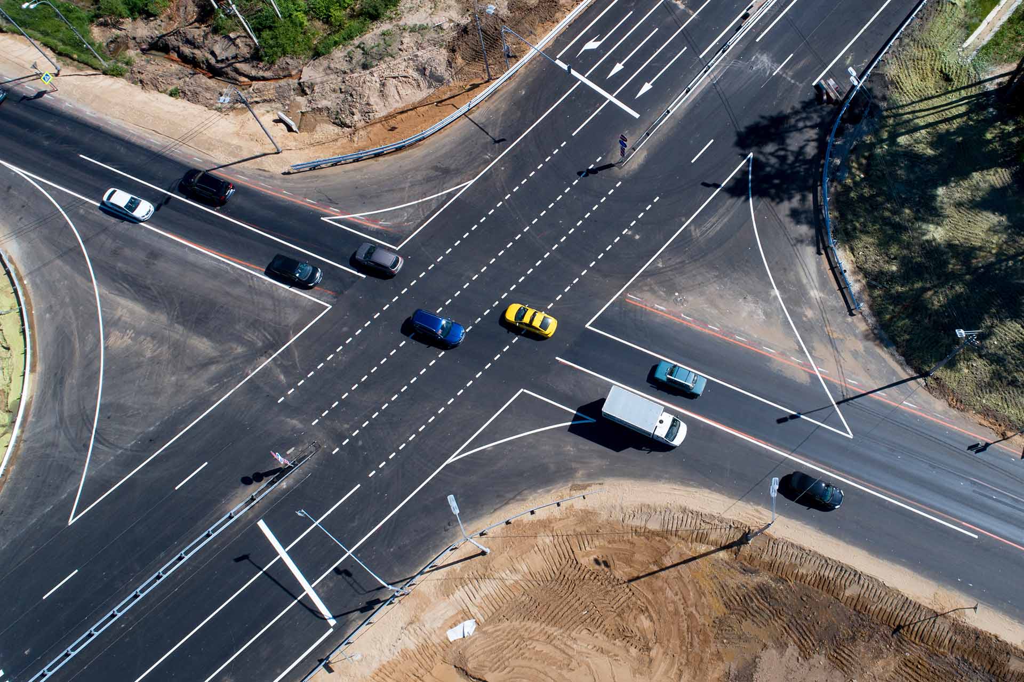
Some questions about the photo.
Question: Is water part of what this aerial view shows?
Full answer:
No, there's no water in this view.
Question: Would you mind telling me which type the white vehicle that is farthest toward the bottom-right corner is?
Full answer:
From above, the white vehicle that is farthest toward the bottom-right corner can be identified as a truck.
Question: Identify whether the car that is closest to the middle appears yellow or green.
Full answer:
The color of the car that is closest to the middle is yellow.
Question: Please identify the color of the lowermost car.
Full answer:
From above, the lowermost car appears black.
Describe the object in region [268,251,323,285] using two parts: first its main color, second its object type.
black car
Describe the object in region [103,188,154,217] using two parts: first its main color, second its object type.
white car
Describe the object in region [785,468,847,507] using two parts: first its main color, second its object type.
black car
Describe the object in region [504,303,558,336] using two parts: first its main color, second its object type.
yellow car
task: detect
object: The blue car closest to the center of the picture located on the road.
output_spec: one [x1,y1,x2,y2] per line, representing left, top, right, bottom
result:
[412,306,467,343]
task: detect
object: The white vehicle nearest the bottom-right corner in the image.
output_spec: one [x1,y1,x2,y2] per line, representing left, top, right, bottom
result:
[600,385,688,452]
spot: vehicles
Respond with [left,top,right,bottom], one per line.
[412,306,467,343]
[785,468,847,507]
[600,385,688,452]
[183,171,237,204]
[356,246,407,277]
[504,303,558,336]
[652,362,707,398]
[268,251,323,285]
[103,188,154,217]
